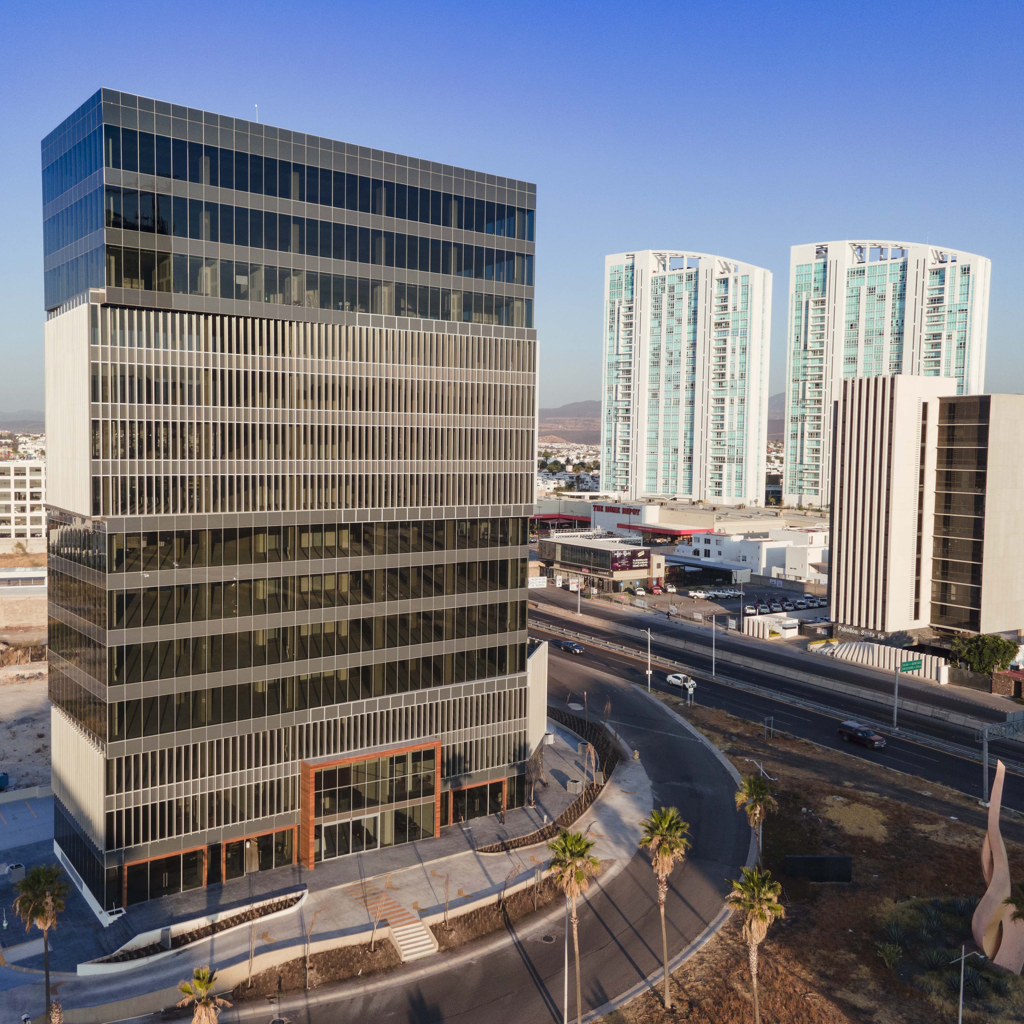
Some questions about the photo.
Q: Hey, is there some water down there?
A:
No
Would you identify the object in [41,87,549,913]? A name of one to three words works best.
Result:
building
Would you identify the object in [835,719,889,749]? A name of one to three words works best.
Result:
truck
